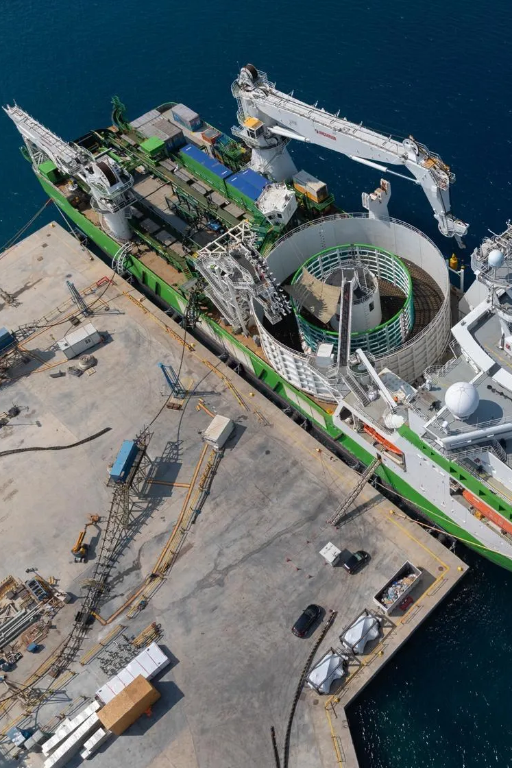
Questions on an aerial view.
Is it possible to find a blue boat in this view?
No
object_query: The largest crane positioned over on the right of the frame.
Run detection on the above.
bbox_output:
[214,61,465,253]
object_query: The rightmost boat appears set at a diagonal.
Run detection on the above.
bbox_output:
[464,489,512,540]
